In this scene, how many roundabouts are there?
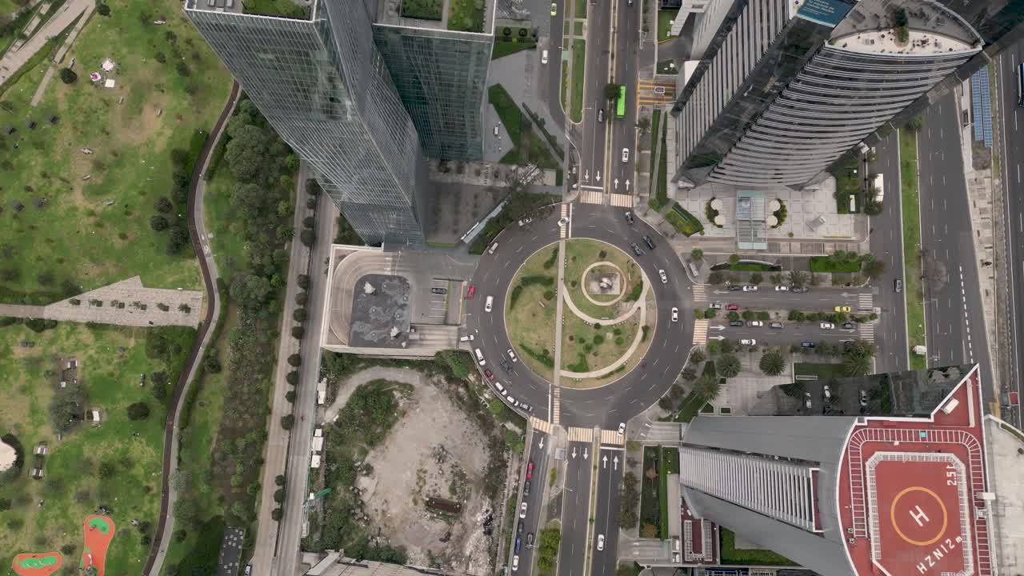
1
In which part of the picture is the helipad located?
bottom right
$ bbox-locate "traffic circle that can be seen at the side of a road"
[459,192,708,446]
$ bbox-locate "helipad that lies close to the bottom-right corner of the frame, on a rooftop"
[865,453,975,576]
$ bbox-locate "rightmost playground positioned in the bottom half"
[79,514,115,576]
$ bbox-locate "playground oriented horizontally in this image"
[12,552,62,576]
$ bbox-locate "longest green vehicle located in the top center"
[614,87,627,119]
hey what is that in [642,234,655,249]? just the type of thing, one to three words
vehicle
